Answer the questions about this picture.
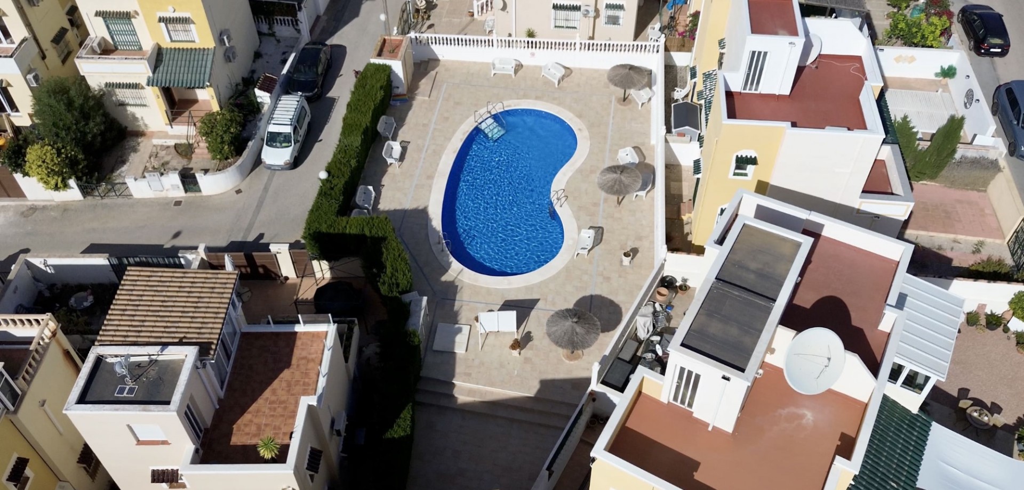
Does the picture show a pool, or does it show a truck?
pool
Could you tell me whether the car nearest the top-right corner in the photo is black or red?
black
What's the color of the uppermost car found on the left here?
black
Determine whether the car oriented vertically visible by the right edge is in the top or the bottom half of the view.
top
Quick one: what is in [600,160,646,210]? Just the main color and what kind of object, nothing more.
gray umbrella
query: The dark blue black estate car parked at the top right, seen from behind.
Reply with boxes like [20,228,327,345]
[953,9,1015,59]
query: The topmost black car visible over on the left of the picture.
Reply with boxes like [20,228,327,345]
[282,39,326,95]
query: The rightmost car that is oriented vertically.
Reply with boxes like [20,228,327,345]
[991,90,1024,161]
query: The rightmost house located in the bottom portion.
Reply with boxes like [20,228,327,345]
[586,187,970,490]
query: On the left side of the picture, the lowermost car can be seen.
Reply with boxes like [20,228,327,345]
[257,89,303,168]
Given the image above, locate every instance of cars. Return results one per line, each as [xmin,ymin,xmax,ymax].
[282,39,326,95]
[953,9,1015,59]
[257,89,303,168]
[991,90,1024,161]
